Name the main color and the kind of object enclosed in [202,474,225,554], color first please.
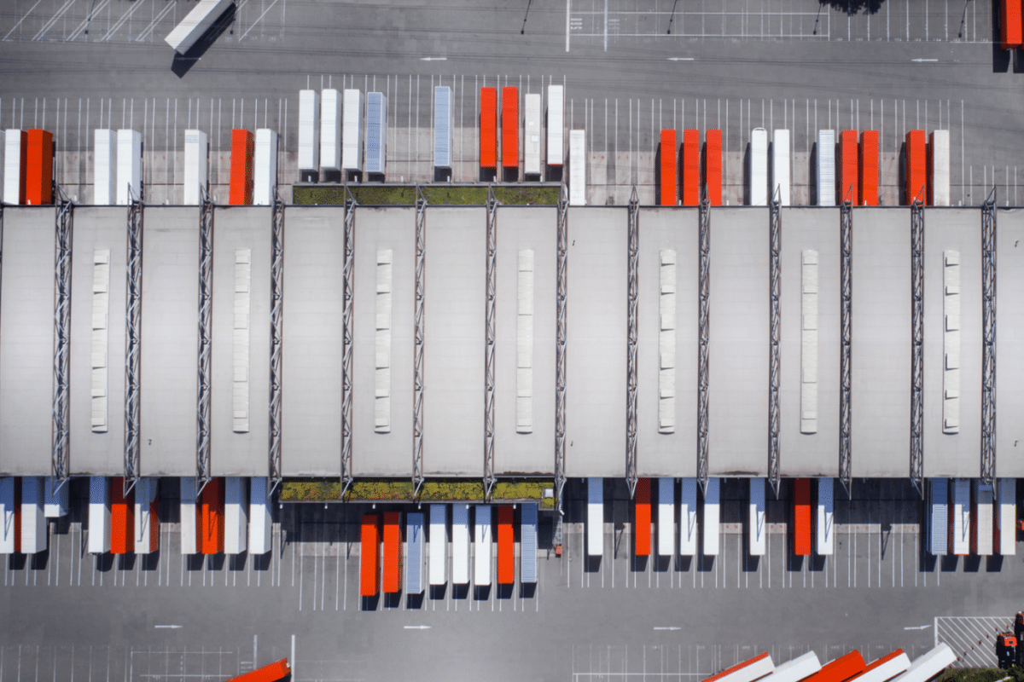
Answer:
red trailer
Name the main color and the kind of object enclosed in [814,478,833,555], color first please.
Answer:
white trailer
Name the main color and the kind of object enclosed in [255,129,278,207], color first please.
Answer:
white trailer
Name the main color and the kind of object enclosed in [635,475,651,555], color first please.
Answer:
red trailer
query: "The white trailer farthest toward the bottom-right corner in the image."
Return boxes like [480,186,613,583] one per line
[884,642,956,682]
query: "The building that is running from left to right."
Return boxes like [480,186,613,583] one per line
[0,176,1024,510]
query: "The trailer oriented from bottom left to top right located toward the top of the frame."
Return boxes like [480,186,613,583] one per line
[164,0,235,54]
